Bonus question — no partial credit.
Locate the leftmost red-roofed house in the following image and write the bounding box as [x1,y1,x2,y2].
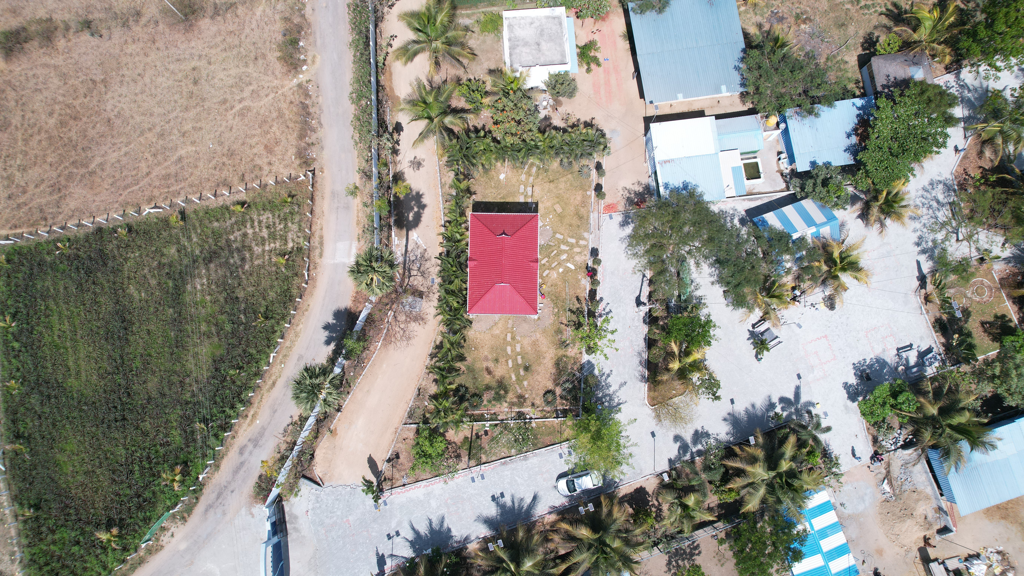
[467,212,545,315]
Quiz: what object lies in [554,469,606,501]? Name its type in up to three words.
car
